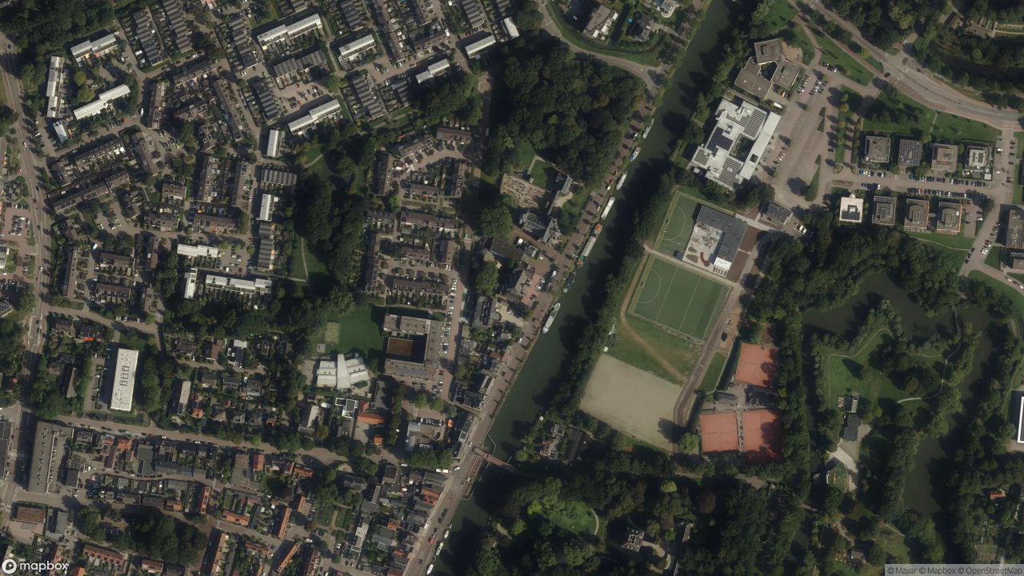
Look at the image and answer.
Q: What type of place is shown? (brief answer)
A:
residential area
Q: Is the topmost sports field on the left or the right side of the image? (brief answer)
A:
right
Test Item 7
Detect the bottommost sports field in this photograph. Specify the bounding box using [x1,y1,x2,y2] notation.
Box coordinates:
[581,354,685,452]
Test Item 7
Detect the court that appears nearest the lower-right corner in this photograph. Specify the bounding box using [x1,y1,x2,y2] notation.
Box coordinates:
[741,409,782,462]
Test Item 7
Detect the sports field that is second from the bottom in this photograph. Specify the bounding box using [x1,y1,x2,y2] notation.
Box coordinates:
[628,254,730,345]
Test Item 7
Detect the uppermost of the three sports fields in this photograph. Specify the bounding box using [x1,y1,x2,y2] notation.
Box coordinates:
[654,190,736,268]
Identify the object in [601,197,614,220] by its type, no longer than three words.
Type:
boat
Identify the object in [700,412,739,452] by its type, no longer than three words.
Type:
tennis court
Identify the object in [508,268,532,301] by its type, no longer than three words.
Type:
house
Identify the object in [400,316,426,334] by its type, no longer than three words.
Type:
building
